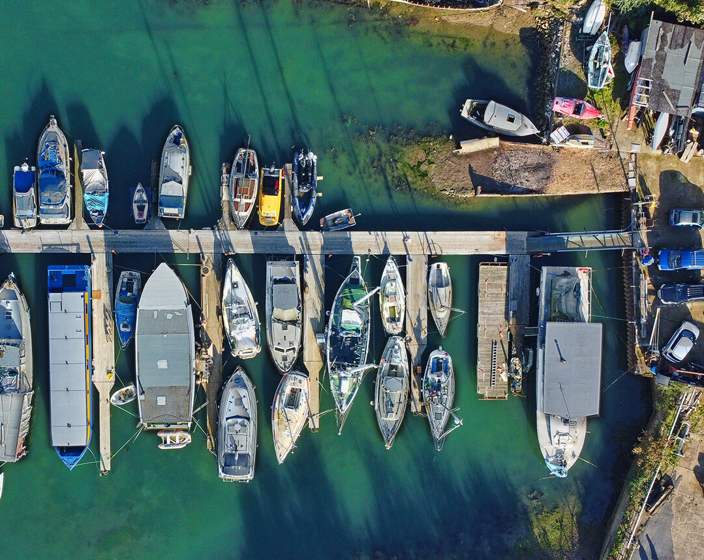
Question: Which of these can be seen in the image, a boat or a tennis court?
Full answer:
Visible in the photo is a boat.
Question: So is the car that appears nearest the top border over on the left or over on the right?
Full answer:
You can find the car that appears nearest the top border on the right side of the picture.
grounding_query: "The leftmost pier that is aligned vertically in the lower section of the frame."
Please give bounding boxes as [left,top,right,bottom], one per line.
[91,254,114,470]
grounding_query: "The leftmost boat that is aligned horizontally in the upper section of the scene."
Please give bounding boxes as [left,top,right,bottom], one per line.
[320,208,360,230]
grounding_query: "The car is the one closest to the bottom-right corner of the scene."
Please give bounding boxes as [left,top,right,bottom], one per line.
[659,320,699,365]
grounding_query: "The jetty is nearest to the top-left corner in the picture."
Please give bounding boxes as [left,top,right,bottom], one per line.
[67,140,90,230]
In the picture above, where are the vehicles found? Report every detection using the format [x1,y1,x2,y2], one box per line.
[655,281,704,306]
[665,206,704,231]
[659,320,699,365]
[655,247,704,272]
